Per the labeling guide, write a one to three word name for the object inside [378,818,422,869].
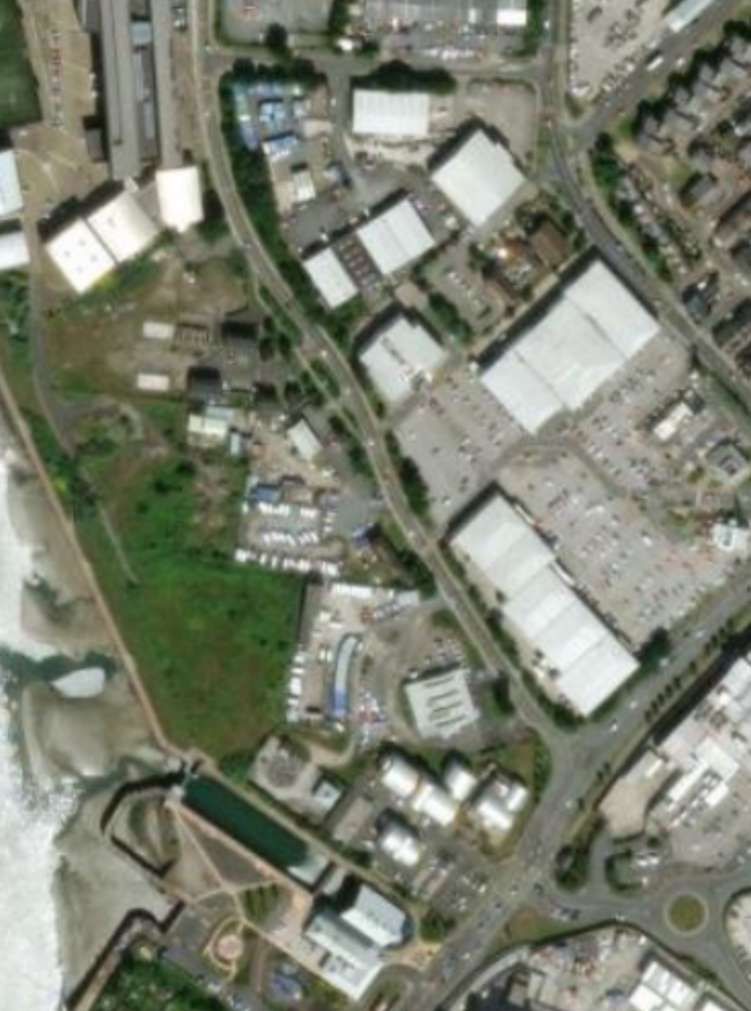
building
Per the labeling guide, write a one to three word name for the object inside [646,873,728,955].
roundabout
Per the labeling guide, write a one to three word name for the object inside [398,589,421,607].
shed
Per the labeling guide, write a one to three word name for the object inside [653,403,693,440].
building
